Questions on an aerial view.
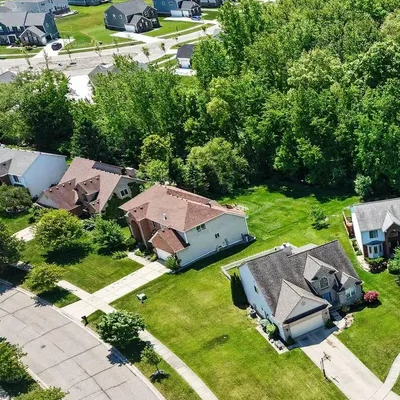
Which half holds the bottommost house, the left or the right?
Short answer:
right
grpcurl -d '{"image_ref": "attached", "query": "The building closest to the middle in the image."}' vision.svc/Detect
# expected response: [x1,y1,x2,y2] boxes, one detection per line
[123,183,245,268]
